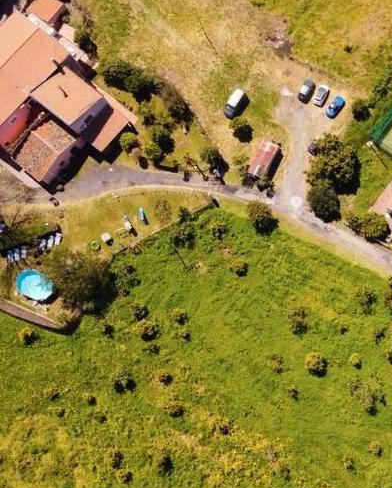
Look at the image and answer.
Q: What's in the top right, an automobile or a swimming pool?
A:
automobile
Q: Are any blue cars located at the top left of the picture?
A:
No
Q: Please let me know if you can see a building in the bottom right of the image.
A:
No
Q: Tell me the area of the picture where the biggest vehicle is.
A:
top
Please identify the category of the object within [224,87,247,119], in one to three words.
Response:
vehicle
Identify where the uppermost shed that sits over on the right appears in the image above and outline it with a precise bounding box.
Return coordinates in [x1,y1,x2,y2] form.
[247,142,279,179]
